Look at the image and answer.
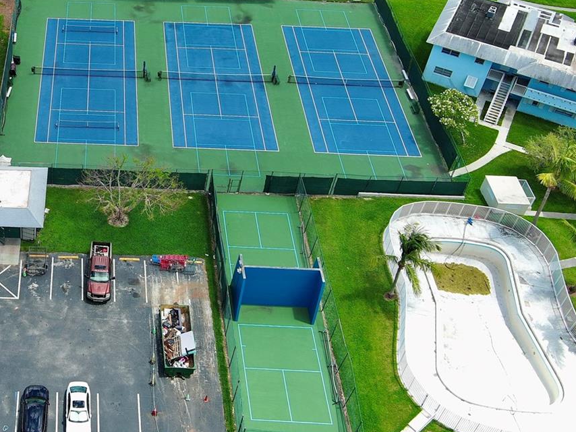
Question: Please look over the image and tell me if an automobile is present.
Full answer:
Yes, you can see an automobile in this photo.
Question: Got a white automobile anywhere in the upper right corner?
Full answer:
No, no white automobile is visible in the upper right corner.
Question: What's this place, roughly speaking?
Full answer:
The picture captures a sports ground.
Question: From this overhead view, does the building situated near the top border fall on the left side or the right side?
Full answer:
It is on the right.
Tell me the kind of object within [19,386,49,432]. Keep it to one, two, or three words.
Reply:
car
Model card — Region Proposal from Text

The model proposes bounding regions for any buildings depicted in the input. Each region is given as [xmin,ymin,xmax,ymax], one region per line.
[0,166,48,244]
[421,0,576,129]
[479,175,540,220]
